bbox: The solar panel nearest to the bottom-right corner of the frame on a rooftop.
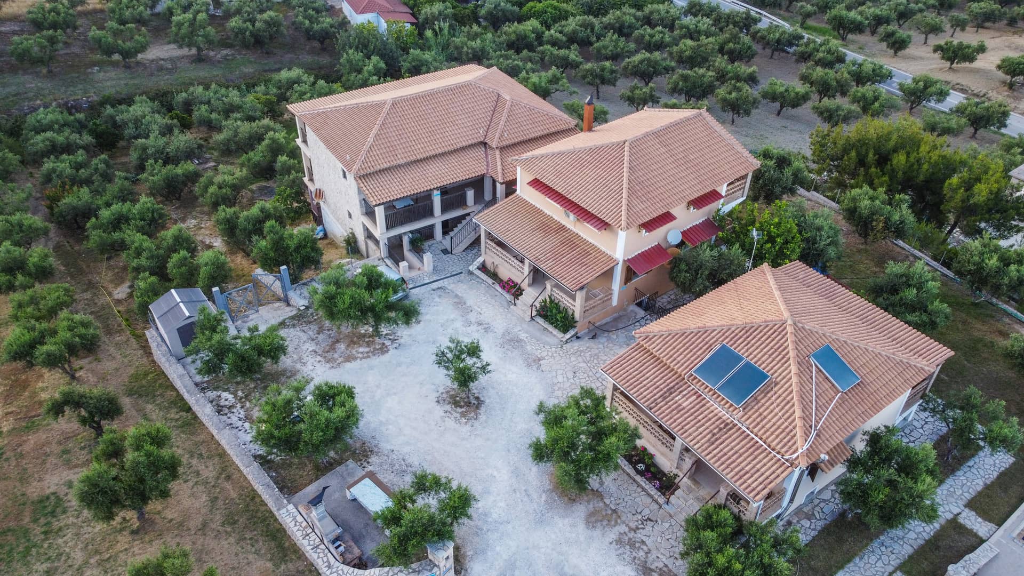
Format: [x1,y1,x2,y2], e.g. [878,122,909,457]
[810,345,862,395]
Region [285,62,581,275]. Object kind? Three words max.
house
